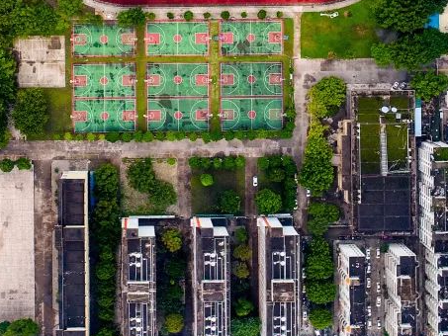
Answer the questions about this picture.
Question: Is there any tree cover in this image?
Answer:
Yes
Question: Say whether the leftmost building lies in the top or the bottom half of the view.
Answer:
bottom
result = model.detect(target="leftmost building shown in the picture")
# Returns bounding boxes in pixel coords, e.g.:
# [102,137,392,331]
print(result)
[54,164,94,336]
